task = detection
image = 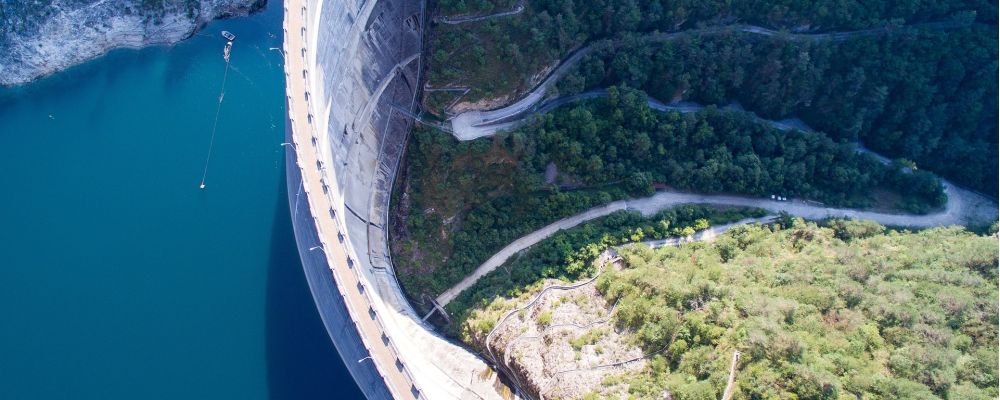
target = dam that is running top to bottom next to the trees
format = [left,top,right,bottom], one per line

[282,0,521,400]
